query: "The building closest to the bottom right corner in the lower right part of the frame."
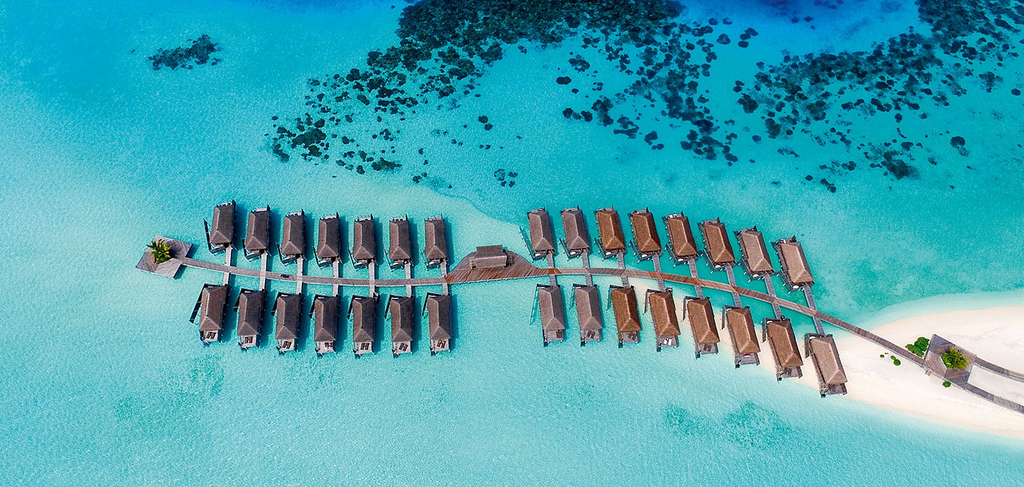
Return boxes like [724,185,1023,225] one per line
[803,332,848,401]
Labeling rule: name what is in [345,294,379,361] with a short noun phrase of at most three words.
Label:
house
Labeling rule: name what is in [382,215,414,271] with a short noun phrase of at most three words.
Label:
house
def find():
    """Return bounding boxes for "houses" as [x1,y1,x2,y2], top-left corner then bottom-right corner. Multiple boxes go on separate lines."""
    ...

[567,283,603,348]
[270,291,305,358]
[383,294,416,361]
[720,304,761,371]
[307,293,342,360]
[531,283,566,348]
[661,210,701,269]
[202,199,238,255]
[417,214,450,270]
[382,215,414,271]
[189,284,231,350]
[803,332,848,401]
[592,204,628,261]
[346,215,378,272]
[345,294,379,361]
[771,236,817,296]
[517,205,557,262]
[644,291,682,358]
[627,207,664,264]
[240,205,273,261]
[557,204,593,261]
[232,288,268,354]
[685,299,725,365]
[760,317,804,385]
[311,212,344,269]
[695,216,738,277]
[420,292,453,358]
[275,209,308,266]
[733,225,776,284]
[604,284,641,350]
